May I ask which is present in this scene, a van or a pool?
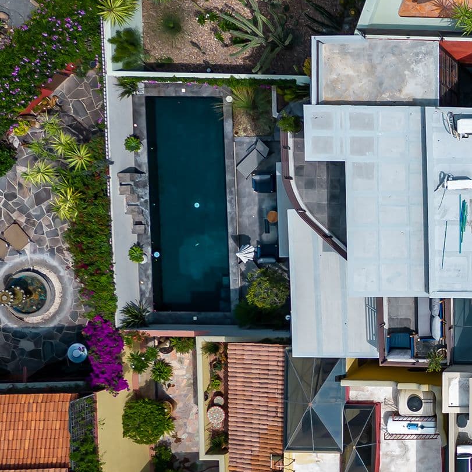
pool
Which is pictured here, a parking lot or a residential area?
residential area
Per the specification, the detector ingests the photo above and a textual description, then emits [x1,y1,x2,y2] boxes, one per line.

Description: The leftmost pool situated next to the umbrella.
[147,97,229,312]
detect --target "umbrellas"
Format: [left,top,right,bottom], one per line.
[235,241,262,259]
